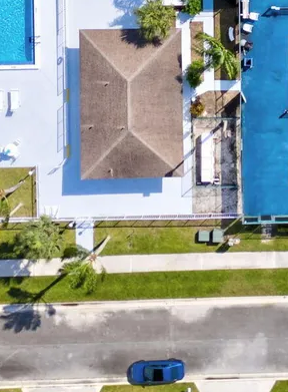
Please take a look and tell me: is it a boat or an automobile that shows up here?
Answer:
automobile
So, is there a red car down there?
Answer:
No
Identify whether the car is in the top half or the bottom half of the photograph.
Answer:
bottom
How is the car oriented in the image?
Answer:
horizontally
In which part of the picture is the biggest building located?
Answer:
top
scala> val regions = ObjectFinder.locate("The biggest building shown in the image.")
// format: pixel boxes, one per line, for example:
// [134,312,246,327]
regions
[79,28,185,180]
